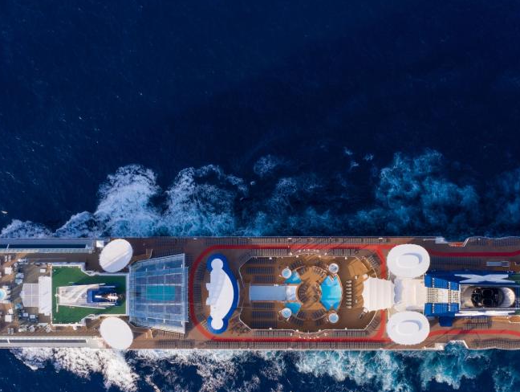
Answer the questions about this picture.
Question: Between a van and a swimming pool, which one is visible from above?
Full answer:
Visible in the photo is a swimming pool.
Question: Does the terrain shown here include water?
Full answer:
Yes, some water is visible.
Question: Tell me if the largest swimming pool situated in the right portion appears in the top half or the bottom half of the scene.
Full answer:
You can find the largest swimming pool situated in the right portion in the bottom half.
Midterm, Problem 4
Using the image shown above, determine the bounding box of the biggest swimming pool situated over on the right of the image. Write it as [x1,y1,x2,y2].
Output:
[320,274,343,312]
